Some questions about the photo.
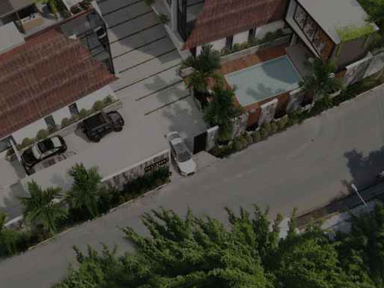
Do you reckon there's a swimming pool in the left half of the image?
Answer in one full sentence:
No, I can find no swimming pool in the left half of the image.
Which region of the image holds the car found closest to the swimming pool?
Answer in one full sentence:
The car found closest to the swimming pool sits in the center section of the image.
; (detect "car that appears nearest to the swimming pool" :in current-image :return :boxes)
[166,124,203,178]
